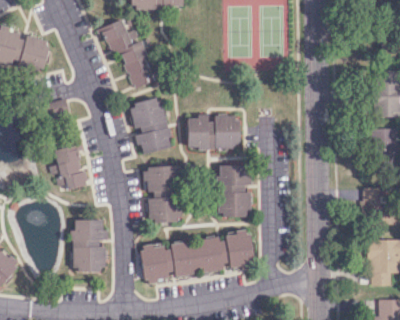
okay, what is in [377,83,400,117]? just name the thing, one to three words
house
